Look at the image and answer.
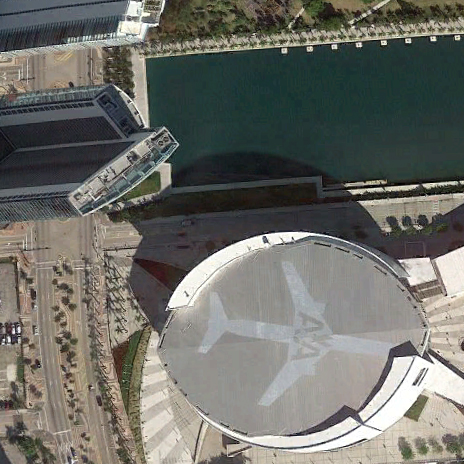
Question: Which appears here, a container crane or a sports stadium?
sports stadium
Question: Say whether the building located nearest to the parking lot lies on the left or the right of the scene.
left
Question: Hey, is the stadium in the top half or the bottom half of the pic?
bottom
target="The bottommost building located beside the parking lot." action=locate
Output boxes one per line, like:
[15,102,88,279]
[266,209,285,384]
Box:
[0,85,178,228]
